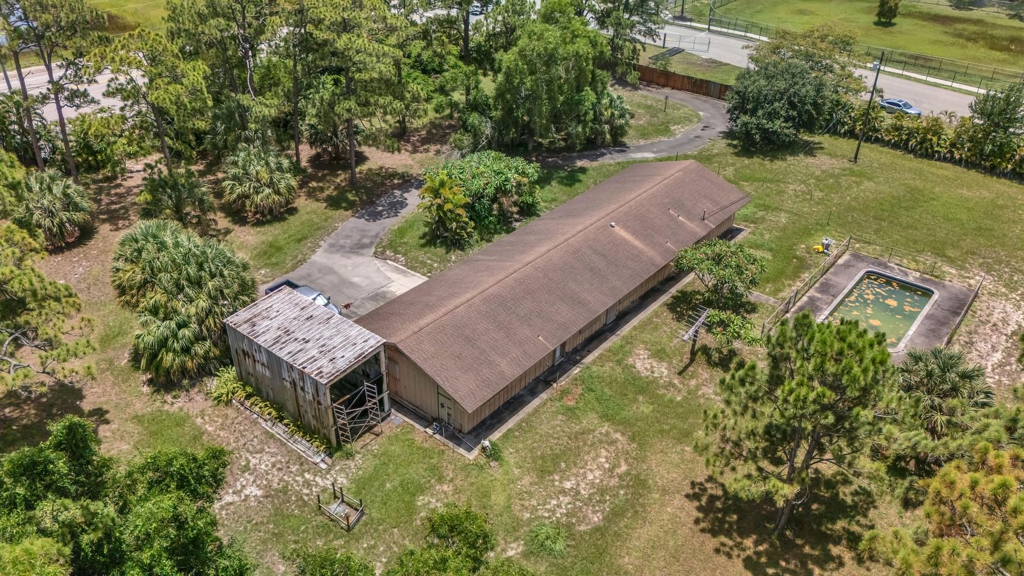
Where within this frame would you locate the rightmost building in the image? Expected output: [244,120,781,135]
[354,159,751,435]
